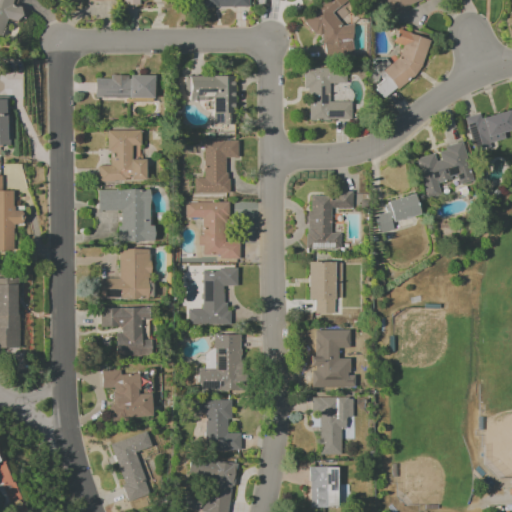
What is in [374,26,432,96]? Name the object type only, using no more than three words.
house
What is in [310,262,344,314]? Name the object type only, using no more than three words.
house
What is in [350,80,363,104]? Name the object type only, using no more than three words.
swimming pool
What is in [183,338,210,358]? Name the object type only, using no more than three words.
swimming pool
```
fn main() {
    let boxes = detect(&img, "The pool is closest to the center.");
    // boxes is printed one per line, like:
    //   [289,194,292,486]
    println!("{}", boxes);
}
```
[182,228,196,253]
